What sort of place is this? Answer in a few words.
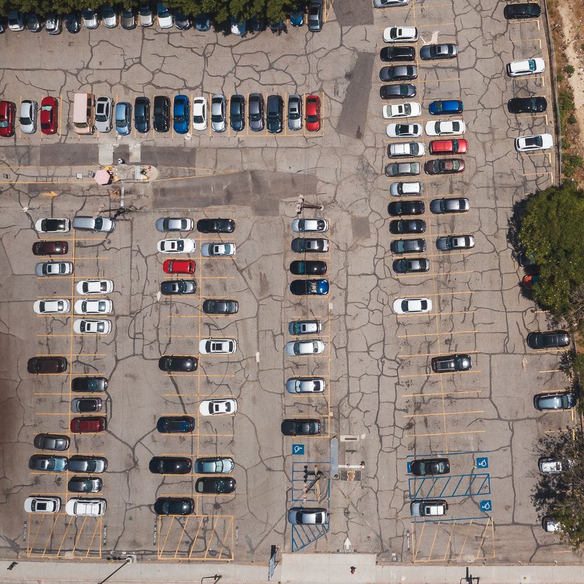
parking lot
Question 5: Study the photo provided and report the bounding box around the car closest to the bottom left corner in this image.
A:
[24,496,60,515]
